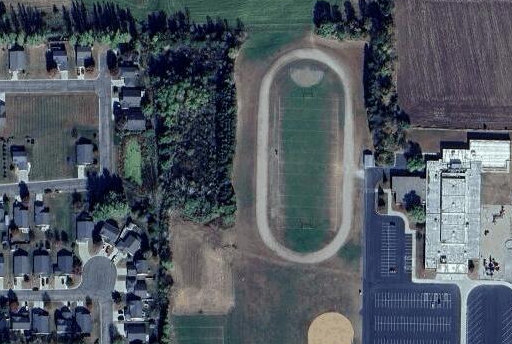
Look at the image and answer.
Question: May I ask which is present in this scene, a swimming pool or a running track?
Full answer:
Visible in the photo is a running track.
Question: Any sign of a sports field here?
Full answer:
Yes, the frame does contain a sports field.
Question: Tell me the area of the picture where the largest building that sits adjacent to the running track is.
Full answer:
The largest building that sits adjacent to the running track is located in the right region of the scene.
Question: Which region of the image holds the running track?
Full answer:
The running track appears toward the center of the photo.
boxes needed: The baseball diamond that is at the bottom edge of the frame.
[308,313,354,344]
